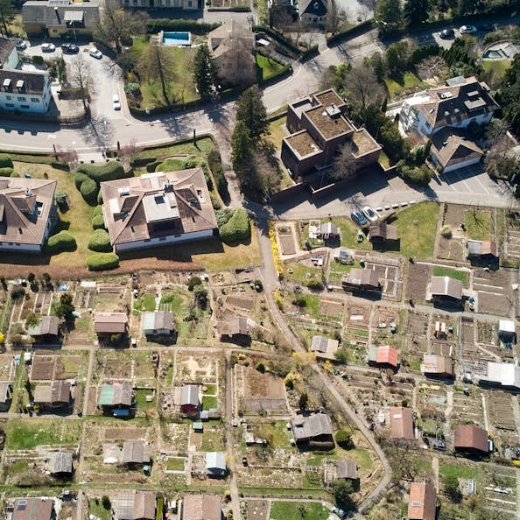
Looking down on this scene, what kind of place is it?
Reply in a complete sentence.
This looks like a residential area.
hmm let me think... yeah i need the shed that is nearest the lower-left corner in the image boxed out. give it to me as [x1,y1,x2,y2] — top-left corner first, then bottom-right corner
[13,497,57,520]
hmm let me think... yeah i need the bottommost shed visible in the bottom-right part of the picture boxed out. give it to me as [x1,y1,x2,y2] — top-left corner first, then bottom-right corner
[409,483,438,520]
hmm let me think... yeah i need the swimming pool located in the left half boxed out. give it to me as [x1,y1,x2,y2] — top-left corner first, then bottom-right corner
[160,32,194,45]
